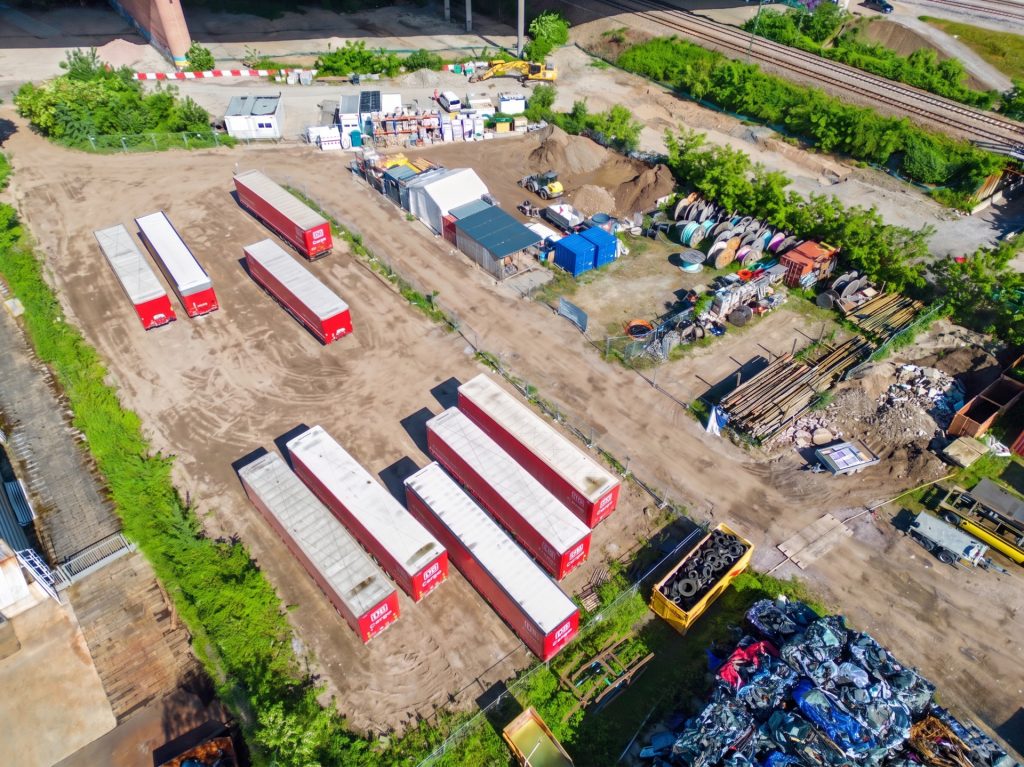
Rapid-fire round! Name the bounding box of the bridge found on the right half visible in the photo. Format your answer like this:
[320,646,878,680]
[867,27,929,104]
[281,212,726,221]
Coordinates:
[986,132,1024,177]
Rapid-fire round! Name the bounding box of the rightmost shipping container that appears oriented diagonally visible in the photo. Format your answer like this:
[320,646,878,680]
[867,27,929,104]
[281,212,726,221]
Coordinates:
[948,355,1024,451]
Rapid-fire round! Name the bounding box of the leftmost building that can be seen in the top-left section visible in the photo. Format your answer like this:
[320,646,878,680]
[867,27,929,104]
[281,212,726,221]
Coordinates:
[227,90,284,139]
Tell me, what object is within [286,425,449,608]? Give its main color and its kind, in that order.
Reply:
white trailer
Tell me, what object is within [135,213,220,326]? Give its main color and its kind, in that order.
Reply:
white trailer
